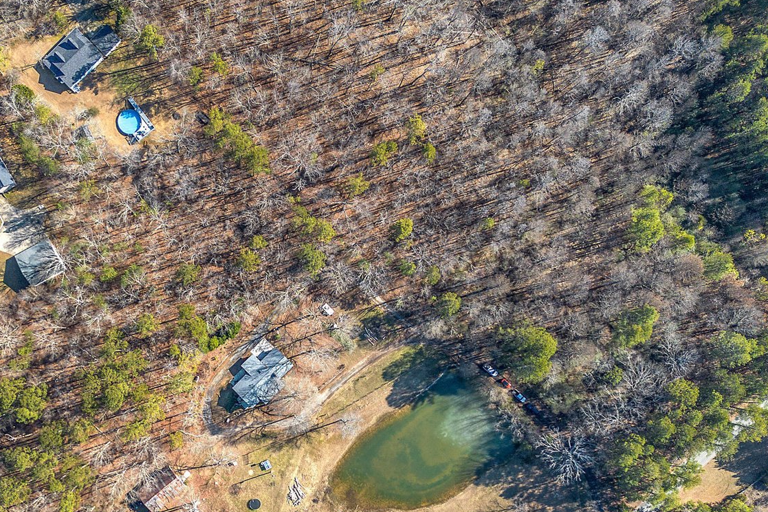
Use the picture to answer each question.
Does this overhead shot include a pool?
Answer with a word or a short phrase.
Yes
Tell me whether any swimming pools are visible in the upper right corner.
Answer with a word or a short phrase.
No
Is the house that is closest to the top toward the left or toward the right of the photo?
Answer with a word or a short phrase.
left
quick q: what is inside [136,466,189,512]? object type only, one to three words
barn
